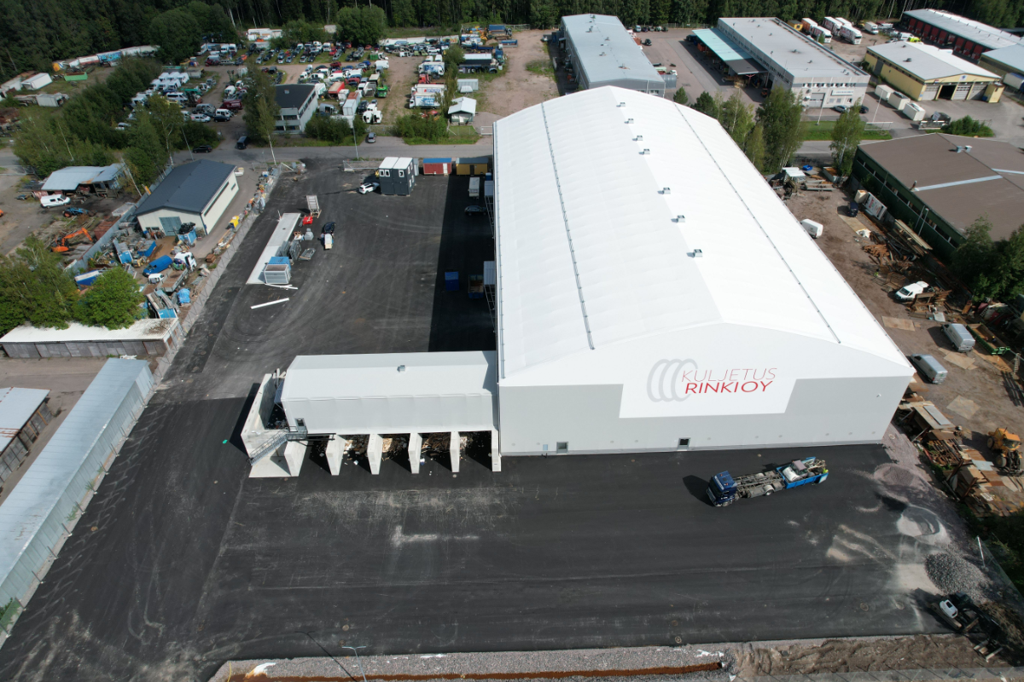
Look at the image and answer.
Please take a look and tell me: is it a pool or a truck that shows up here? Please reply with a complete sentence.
Of the two, only a truck appears.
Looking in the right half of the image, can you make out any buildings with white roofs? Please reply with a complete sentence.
Yes, you'll find a building with a white roof in the right half of the image.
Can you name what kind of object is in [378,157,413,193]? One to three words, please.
building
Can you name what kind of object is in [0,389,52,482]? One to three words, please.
shed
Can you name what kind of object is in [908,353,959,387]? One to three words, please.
van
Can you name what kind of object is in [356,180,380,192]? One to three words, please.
vehicle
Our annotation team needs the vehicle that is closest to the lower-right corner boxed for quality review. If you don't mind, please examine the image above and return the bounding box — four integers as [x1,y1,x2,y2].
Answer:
[932,596,1011,652]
